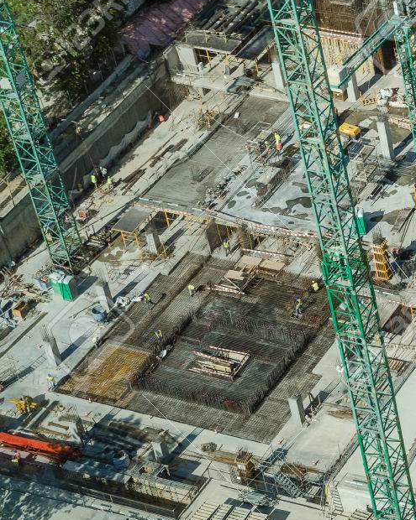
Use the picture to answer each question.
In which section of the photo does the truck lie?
bottom left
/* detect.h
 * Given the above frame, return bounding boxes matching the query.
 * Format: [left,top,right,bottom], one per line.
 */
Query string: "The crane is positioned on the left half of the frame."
[0,0,98,269]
